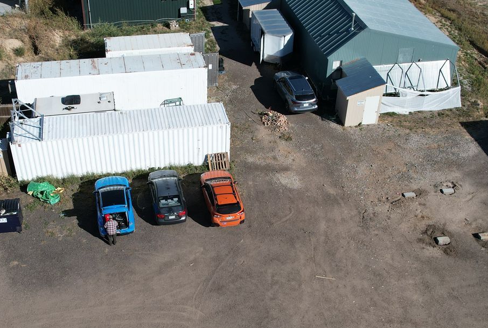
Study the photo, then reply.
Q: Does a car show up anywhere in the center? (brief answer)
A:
Yes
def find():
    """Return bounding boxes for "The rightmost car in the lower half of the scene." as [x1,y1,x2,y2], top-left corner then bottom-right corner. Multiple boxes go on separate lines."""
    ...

[203,171,249,225]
